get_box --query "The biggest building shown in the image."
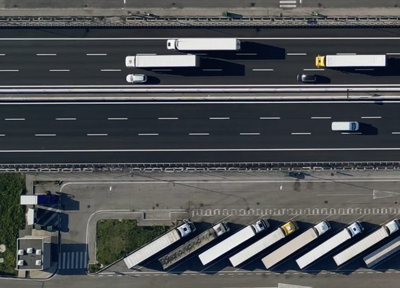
[16,237,50,270]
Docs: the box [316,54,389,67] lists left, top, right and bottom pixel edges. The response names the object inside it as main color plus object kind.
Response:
white vehicle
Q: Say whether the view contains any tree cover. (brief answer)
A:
No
